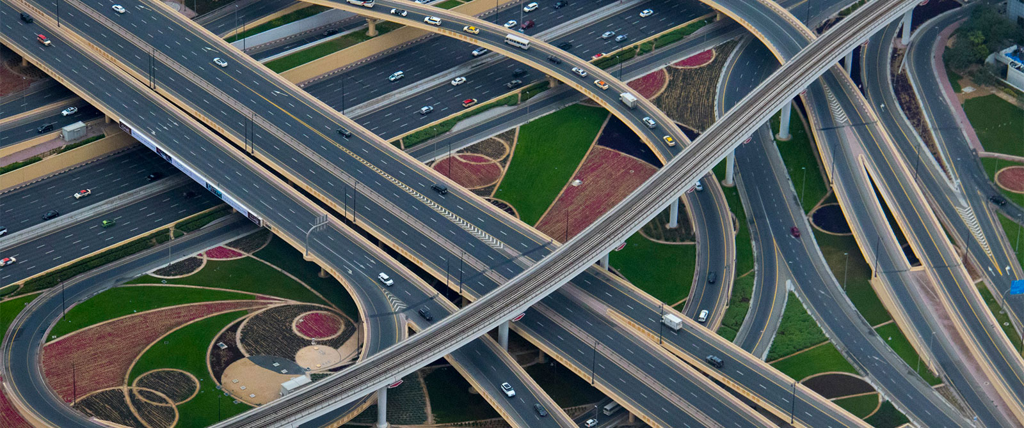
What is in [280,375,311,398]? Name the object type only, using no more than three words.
building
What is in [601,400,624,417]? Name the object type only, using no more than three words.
vehicle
